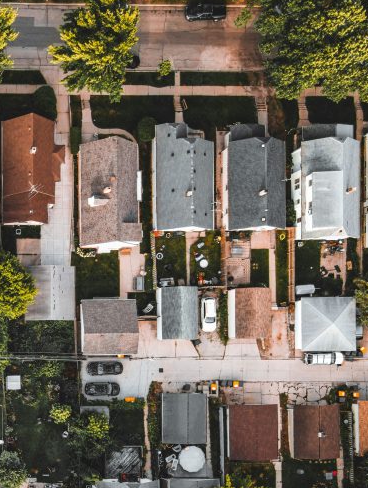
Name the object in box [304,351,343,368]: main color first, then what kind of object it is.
white car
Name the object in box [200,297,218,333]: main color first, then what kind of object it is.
white car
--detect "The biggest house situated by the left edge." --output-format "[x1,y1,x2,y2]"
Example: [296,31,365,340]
[1,113,65,233]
